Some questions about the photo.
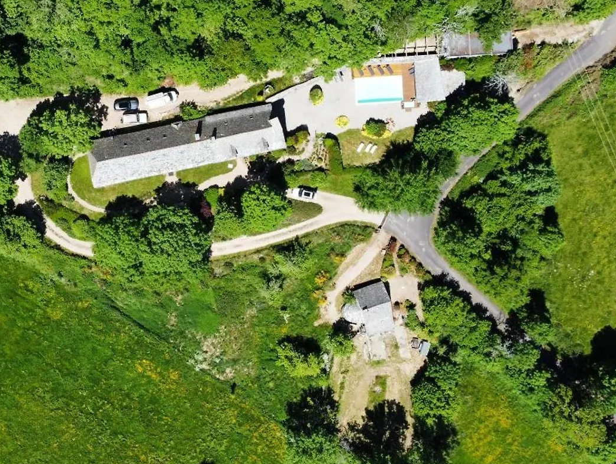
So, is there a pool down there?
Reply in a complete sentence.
Yes, the photo shows a pool.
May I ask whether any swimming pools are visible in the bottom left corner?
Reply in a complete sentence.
No, no swimming pool is visible in the bottom left corner.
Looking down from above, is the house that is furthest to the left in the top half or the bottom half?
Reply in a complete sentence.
The house that is furthest to the left is in the top half of the image.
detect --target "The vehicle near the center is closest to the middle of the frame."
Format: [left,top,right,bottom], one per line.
[287,185,316,200]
